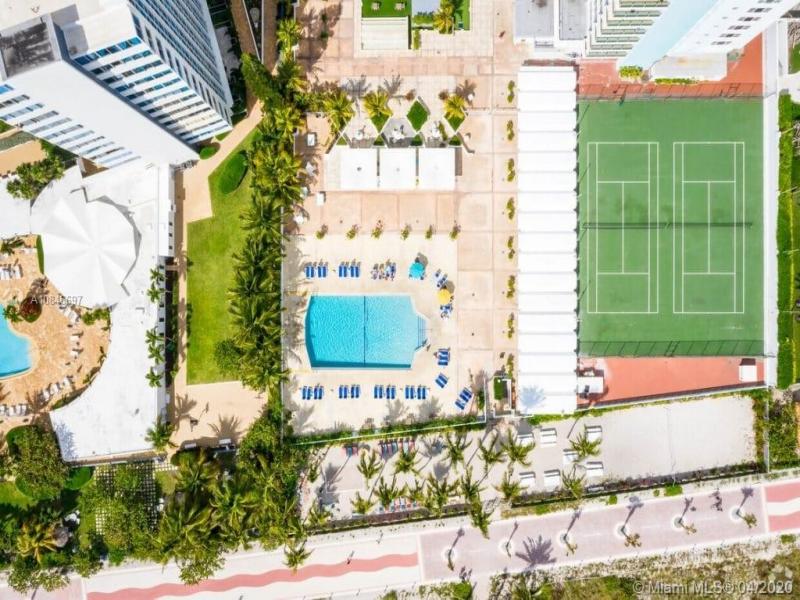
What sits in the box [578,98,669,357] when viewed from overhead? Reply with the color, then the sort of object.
green tennis court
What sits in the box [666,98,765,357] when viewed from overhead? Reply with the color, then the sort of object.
green tennis court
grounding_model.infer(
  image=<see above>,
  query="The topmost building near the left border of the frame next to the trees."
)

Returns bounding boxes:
[0,0,232,170]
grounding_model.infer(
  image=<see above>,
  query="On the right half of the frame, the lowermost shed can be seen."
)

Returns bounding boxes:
[578,377,605,394]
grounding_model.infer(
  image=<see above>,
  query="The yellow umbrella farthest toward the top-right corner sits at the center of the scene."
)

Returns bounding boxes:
[438,290,451,304]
